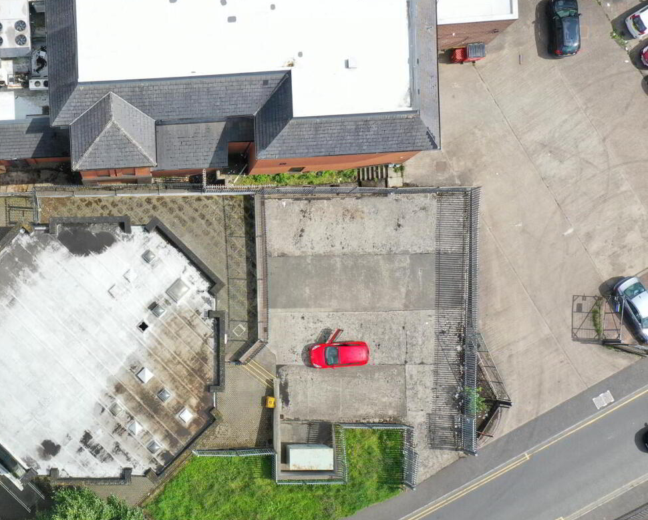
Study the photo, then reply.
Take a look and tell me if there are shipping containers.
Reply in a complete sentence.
Yes, looking at the shot, I can spot a shipping container.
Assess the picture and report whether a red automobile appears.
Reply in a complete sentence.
Yes, I can see a red automobile in this picture.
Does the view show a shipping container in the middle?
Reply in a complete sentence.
No, I see no shipping container in the middle.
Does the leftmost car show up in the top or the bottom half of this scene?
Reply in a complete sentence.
It is in the bottom half that the leftmost car appears.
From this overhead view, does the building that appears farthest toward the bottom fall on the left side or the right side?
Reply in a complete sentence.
The building that appears farthest toward the bottom appears in the left half of the scene.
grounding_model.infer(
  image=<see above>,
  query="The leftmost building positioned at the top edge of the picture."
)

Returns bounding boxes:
[0,0,441,186]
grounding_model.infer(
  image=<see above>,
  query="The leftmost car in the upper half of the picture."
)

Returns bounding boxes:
[543,0,581,59]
